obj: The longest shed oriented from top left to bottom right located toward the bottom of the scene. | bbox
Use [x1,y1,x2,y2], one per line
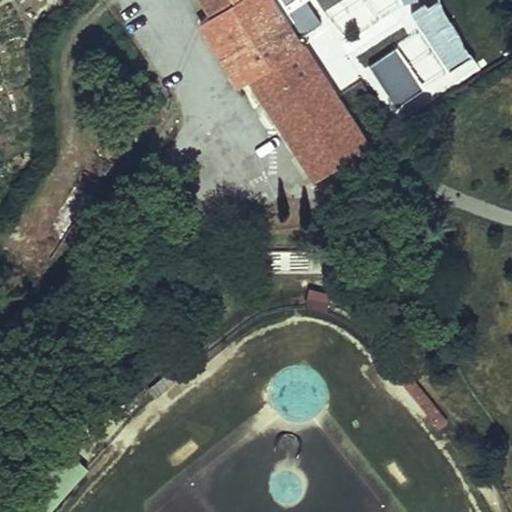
[406,380,448,430]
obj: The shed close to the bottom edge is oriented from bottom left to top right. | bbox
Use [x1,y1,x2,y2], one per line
[38,466,88,512]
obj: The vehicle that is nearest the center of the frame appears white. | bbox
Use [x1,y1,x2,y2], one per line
[254,138,280,159]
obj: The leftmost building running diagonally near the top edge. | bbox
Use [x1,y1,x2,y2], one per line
[200,0,370,184]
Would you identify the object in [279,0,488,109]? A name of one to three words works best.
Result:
building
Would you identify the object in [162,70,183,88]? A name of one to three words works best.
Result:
car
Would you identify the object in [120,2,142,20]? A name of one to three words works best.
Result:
car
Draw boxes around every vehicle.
[120,2,142,20]
[162,70,183,88]
[126,15,148,33]
[254,138,280,159]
